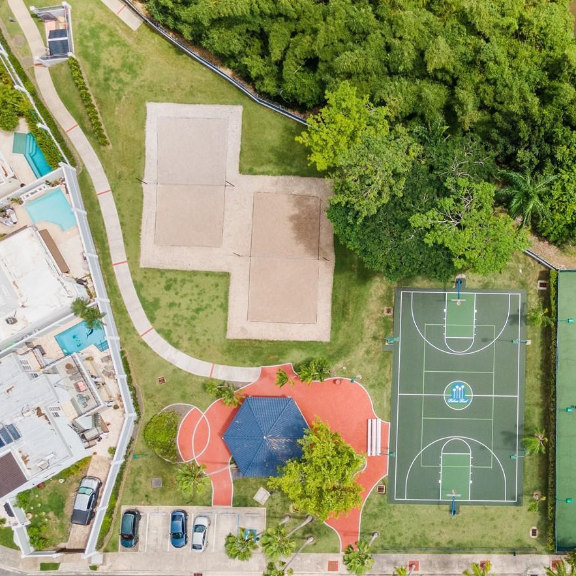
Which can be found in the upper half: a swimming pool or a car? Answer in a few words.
swimming pool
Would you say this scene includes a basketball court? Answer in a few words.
Yes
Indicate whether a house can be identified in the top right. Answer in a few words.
No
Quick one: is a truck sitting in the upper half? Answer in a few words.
No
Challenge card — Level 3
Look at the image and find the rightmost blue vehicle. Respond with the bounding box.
[169,510,189,547]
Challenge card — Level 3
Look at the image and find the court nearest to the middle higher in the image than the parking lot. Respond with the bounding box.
[227,174,335,342]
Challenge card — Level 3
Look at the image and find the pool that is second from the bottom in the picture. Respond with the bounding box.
[23,188,75,231]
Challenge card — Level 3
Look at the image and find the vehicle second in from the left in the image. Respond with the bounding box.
[120,511,142,546]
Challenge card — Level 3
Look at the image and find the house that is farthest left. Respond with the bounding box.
[0,154,40,217]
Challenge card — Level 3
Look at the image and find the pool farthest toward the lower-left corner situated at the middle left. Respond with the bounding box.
[53,320,108,356]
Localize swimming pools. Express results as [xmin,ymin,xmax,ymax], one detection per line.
[23,188,75,231]
[11,132,52,178]
[53,320,108,356]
